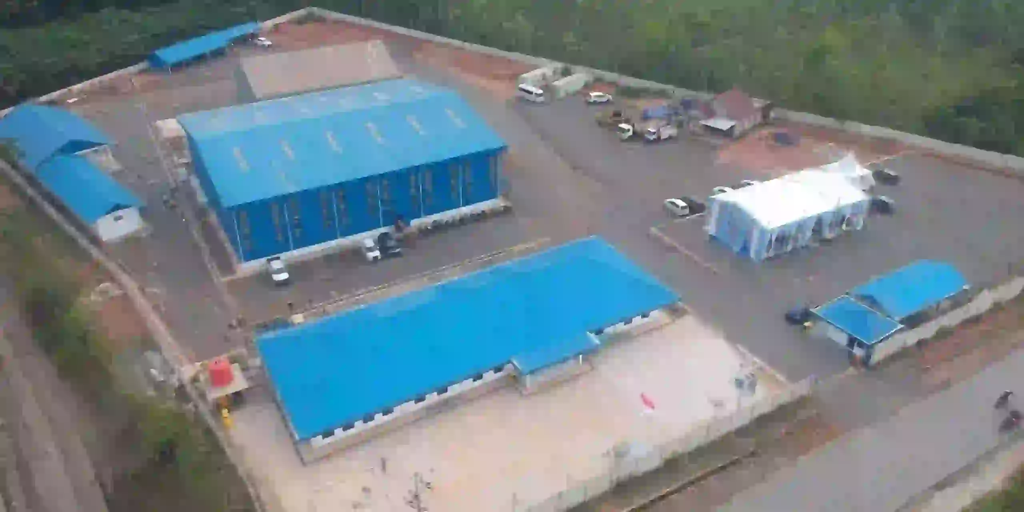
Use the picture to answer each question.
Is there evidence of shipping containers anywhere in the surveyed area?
Yes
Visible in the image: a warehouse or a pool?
warehouse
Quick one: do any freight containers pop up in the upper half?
Yes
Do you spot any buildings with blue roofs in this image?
Yes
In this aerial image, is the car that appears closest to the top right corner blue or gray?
gray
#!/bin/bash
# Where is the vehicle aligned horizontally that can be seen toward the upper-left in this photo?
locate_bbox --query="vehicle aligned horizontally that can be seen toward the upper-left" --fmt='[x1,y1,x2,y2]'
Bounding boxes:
[250,35,274,47]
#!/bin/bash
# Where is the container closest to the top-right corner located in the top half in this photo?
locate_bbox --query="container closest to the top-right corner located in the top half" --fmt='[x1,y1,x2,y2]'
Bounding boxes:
[548,69,585,97]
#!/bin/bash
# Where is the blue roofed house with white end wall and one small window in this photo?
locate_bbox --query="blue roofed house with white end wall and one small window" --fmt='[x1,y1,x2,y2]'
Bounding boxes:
[36,157,144,244]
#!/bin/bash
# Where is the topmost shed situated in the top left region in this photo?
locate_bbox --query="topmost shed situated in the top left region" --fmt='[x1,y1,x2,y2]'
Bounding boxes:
[137,19,262,79]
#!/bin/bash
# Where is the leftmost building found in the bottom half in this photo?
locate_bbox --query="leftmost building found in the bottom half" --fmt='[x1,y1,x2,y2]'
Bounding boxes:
[252,235,680,467]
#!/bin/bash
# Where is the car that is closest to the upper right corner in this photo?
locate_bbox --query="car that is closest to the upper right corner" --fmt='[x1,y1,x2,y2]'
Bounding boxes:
[869,164,906,187]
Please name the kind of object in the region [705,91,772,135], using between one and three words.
shed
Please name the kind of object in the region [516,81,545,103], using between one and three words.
vehicle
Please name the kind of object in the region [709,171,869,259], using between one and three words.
tent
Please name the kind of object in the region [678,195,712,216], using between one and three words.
car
